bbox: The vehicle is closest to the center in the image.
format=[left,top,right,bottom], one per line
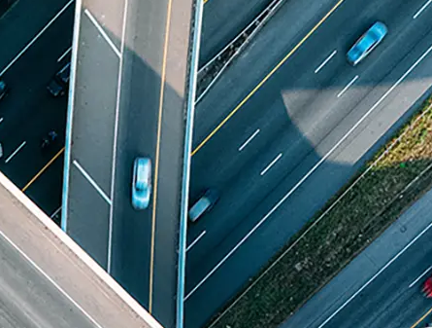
[186,176,229,226]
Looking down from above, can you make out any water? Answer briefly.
No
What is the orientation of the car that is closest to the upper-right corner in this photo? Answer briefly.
at an angle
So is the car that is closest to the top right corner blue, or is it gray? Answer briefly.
blue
